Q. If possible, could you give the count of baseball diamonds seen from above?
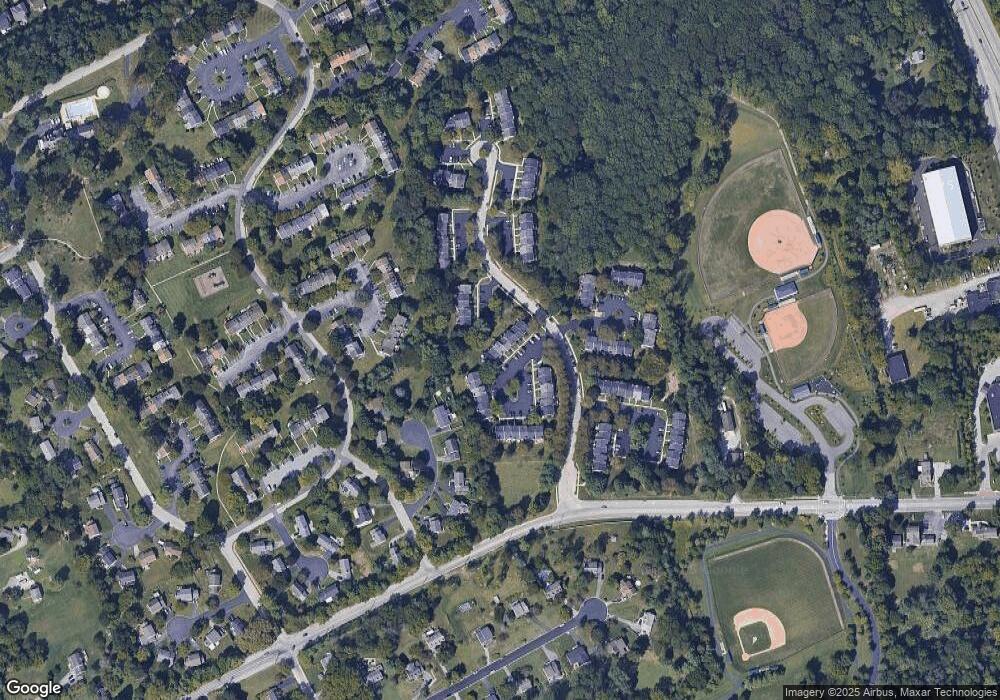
3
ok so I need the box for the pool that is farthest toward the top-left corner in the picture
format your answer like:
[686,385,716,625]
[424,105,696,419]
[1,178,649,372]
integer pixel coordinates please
[62,97,100,123]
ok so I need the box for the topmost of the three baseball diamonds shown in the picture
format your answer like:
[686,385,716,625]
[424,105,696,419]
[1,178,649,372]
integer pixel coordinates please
[698,149,818,302]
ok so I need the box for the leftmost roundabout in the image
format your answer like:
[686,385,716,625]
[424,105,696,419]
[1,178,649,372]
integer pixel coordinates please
[4,310,33,342]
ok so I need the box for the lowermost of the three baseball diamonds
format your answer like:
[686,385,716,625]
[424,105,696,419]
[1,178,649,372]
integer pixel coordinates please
[706,539,843,668]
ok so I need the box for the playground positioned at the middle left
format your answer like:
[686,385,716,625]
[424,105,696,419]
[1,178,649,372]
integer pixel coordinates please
[193,268,229,298]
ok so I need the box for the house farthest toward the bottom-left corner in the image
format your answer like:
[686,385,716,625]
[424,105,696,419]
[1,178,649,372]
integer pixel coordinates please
[63,653,86,679]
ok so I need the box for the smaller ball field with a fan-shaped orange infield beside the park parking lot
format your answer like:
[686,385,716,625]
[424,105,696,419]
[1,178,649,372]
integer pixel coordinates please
[764,288,837,385]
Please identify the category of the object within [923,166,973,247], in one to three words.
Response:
building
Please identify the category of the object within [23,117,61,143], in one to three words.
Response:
house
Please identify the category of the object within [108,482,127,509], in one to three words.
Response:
house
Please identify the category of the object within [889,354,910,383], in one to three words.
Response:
barn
